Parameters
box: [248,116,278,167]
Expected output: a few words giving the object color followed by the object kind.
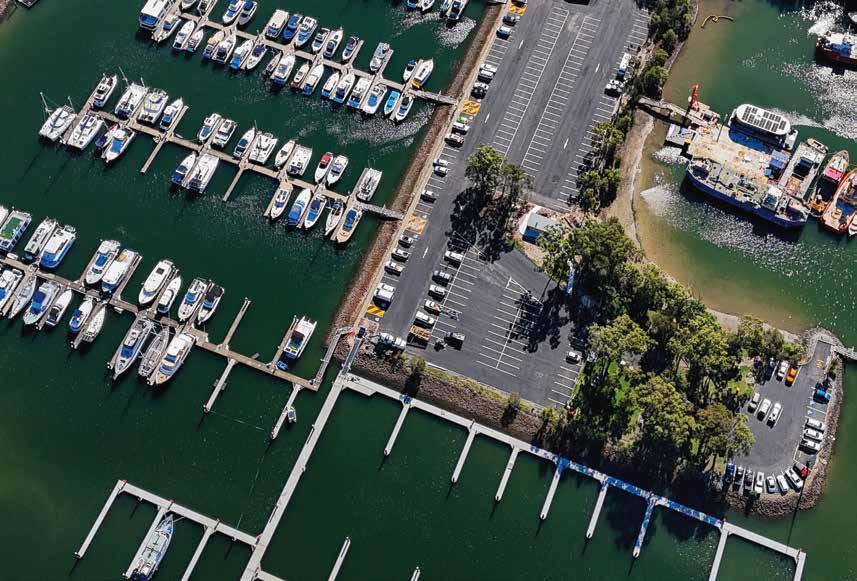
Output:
white boat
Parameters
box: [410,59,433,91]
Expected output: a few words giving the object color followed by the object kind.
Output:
white boat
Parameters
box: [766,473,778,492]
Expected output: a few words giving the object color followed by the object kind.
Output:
white vehicle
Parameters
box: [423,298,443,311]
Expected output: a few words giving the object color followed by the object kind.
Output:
white vehicle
